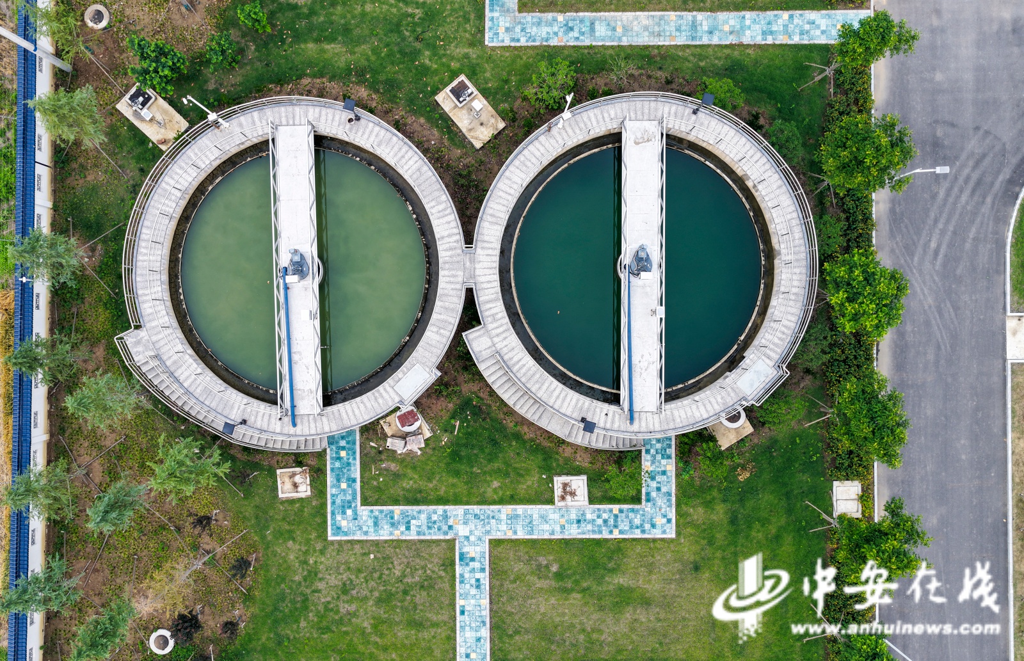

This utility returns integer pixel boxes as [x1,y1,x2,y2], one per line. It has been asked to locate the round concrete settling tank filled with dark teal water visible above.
[462,95,815,451]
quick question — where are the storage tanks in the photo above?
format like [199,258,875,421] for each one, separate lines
[462,95,815,451]
[109,98,466,453]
